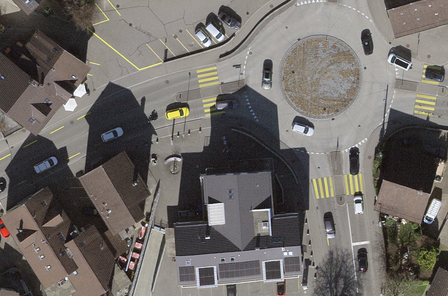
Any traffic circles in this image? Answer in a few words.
Yes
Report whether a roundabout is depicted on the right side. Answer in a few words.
Yes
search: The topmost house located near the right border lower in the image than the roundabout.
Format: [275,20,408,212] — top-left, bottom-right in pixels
[374,150,439,224]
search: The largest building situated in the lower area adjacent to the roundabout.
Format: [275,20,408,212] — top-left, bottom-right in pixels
[174,171,303,290]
